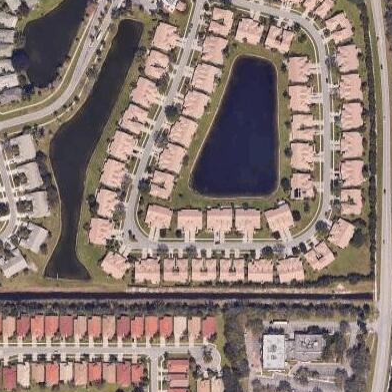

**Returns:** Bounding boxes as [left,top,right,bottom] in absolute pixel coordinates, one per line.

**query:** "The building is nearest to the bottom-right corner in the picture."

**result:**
[263,334,324,370]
